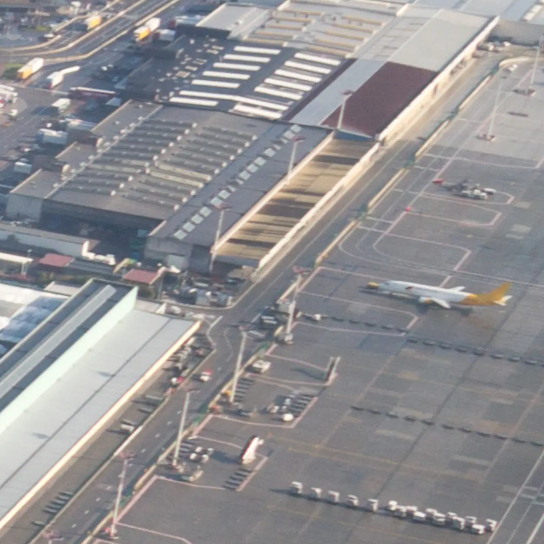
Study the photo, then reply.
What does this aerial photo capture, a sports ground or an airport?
airport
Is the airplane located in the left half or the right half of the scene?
right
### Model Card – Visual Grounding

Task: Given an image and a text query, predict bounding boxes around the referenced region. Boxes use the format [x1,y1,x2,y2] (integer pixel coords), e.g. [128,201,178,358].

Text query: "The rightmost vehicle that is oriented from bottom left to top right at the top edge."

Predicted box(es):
[137,20,158,39]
